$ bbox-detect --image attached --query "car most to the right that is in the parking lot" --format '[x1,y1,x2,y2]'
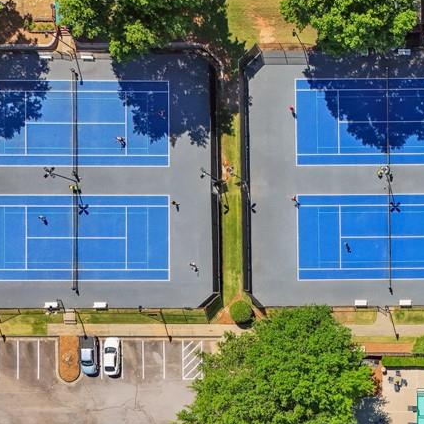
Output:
[102,337,122,376]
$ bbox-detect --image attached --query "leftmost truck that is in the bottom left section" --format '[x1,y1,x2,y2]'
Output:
[77,335,99,376]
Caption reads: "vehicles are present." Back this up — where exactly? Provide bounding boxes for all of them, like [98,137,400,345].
[102,337,122,376]
[77,335,99,376]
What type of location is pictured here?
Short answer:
sports ground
